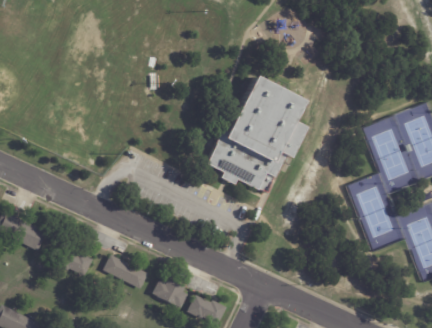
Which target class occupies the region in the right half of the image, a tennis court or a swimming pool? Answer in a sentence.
The feature located in the right half of the image is a tennis court.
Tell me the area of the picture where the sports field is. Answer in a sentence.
The sports field is in the top left part of the image.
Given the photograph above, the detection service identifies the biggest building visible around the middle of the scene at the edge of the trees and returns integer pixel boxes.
[211,75,310,190]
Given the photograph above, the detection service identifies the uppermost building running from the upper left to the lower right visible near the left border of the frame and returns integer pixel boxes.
[0,211,42,252]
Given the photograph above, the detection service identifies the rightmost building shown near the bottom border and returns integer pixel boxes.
[186,292,228,322]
